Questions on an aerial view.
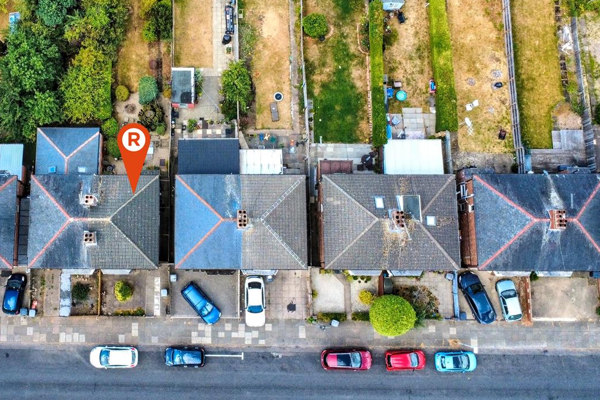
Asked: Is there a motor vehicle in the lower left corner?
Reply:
Yes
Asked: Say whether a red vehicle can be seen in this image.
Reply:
Yes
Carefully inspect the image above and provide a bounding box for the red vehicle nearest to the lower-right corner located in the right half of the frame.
[384,349,425,372]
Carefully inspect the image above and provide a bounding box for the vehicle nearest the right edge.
[493,278,523,323]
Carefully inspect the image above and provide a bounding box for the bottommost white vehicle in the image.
[90,344,139,370]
